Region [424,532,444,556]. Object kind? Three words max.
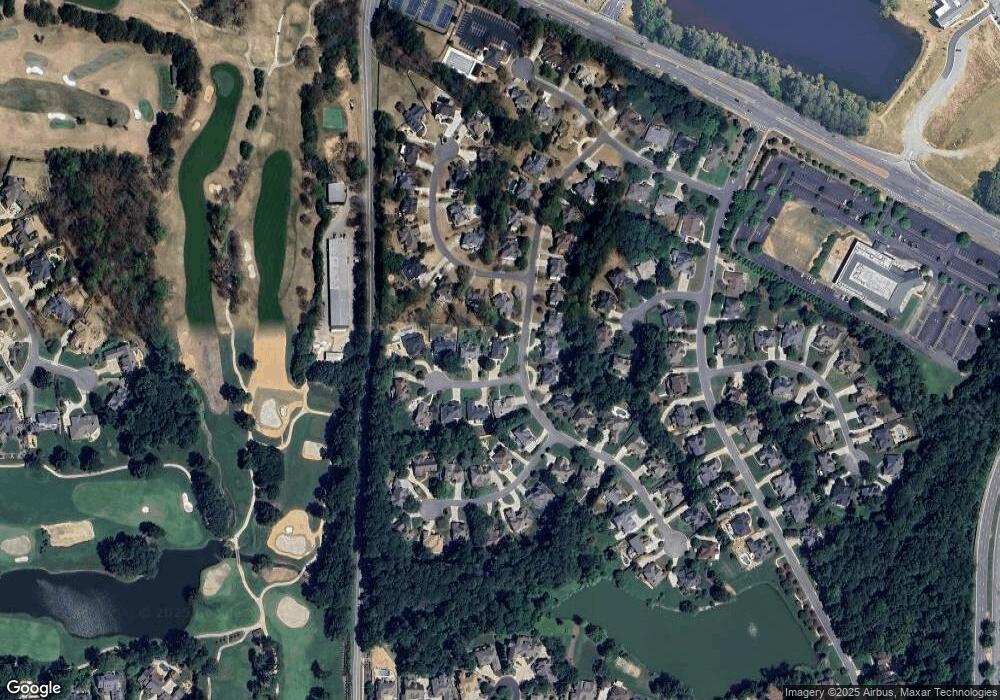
house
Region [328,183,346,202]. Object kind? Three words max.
shed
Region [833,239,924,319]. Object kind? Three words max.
building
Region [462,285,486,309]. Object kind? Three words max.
house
